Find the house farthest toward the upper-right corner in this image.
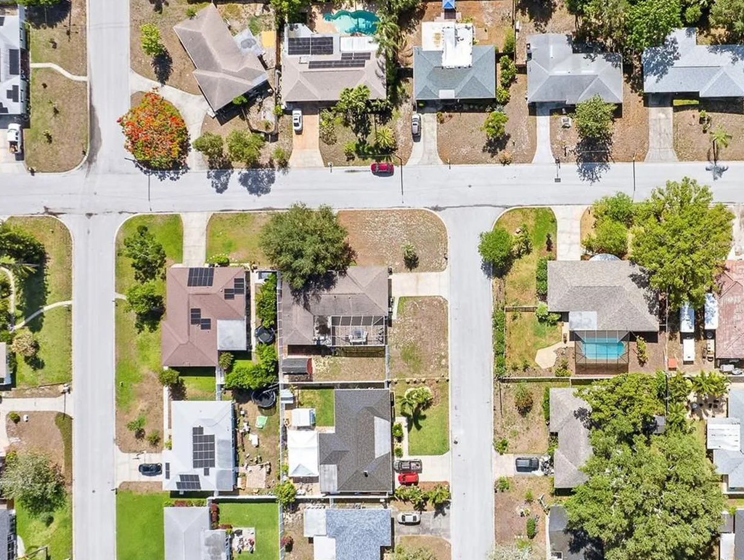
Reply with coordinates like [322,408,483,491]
[643,28,744,98]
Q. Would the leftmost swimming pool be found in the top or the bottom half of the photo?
top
